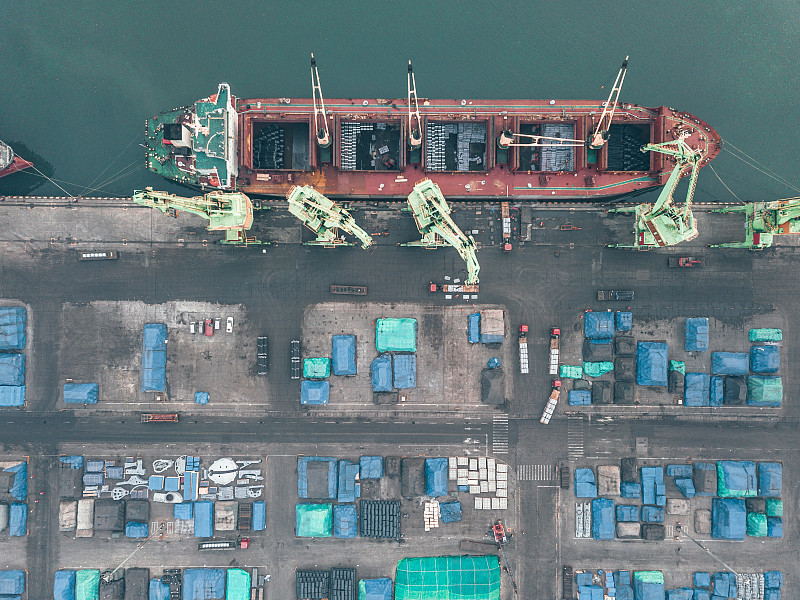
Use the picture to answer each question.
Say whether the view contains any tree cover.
No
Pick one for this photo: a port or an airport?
port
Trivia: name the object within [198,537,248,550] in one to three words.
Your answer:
vehicle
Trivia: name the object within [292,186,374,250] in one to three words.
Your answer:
container crane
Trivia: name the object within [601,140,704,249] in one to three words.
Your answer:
container crane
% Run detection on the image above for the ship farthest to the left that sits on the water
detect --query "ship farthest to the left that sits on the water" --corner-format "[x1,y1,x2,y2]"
[0,142,34,180]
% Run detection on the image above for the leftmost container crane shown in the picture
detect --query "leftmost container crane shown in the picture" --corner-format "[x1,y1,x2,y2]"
[121,180,274,244]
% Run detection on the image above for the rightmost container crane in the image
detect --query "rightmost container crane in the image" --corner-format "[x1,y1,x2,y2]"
[702,197,800,244]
